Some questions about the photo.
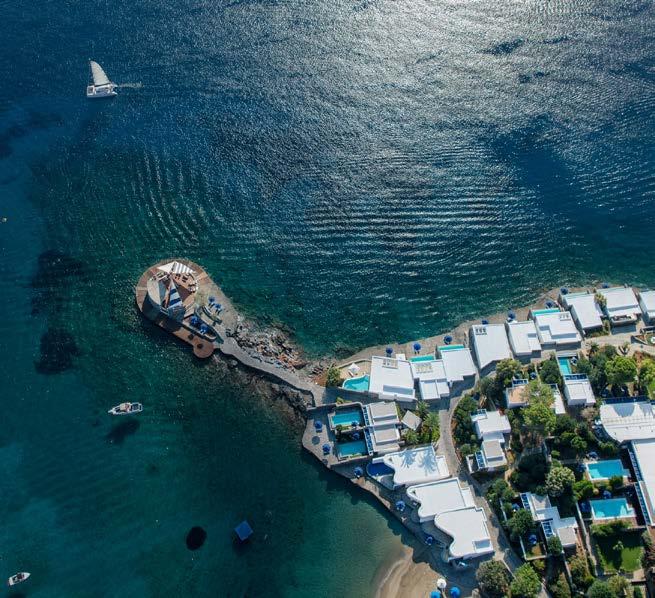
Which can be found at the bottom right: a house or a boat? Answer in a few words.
house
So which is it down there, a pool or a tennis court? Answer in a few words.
pool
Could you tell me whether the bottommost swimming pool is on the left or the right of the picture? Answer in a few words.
right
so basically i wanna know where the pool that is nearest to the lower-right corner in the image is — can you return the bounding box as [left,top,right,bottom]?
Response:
[589,496,631,519]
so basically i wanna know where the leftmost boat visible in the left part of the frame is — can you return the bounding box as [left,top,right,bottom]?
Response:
[8,572,31,586]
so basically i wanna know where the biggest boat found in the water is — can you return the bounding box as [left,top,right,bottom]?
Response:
[84,59,120,98]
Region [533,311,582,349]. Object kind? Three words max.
house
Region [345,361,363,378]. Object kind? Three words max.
umbrella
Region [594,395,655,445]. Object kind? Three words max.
building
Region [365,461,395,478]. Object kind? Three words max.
swimming pool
